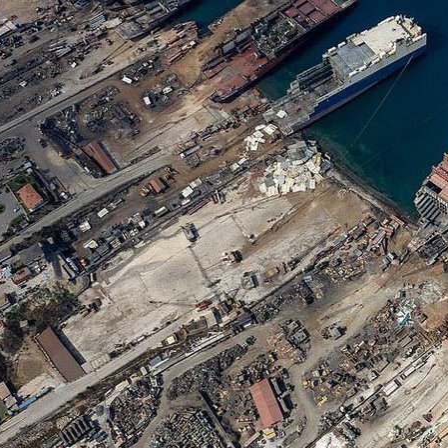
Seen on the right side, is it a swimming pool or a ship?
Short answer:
ship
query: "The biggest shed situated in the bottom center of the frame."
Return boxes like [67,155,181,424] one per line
[250,381,283,427]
